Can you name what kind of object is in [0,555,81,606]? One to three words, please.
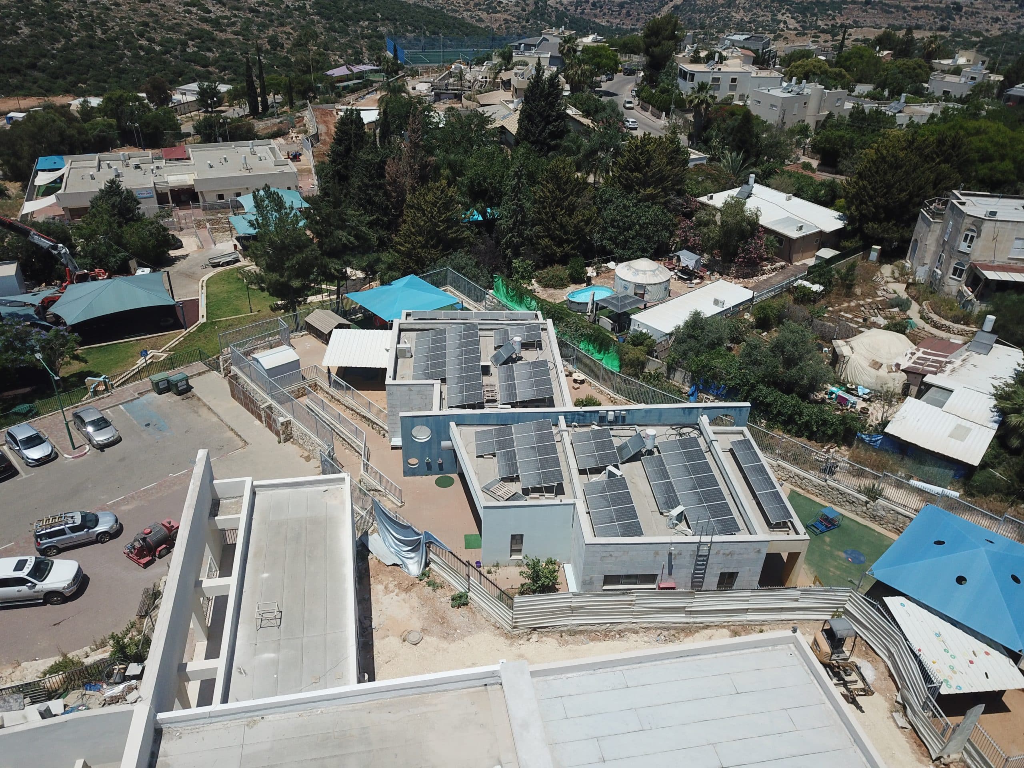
truck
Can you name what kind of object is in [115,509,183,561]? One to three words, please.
trailer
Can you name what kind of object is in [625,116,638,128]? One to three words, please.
vehicle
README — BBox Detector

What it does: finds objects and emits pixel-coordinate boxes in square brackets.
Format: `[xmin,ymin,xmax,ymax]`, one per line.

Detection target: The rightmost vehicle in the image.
[815,616,866,690]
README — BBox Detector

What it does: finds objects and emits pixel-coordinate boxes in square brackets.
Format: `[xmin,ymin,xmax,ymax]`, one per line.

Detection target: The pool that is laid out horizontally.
[566,284,619,308]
